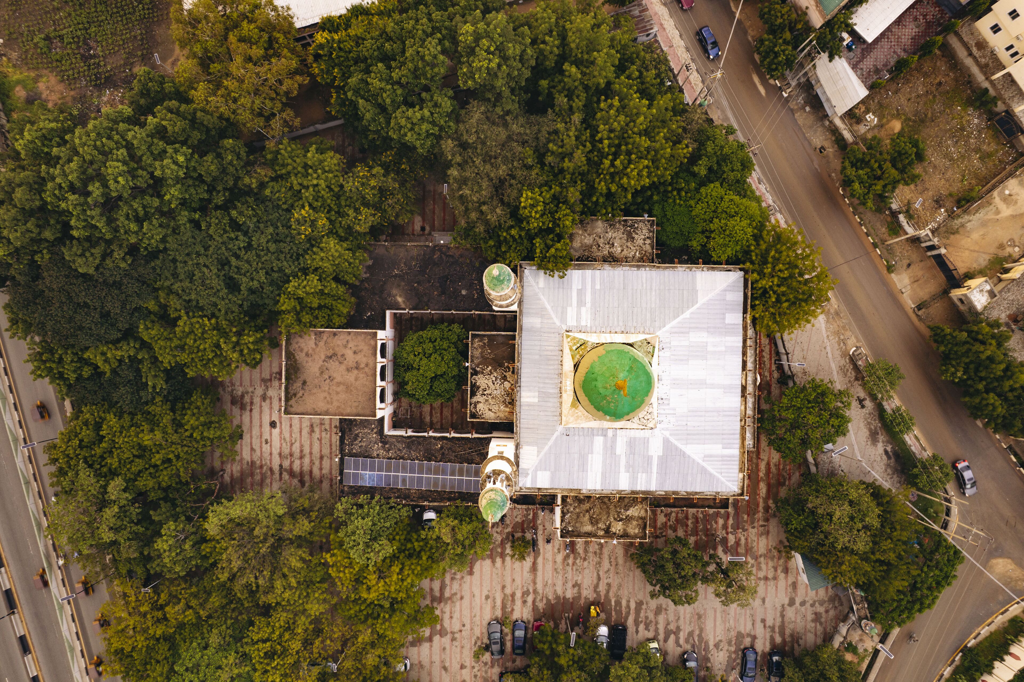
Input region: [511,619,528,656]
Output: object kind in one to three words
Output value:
car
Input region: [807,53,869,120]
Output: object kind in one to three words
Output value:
shed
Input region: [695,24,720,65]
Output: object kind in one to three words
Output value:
car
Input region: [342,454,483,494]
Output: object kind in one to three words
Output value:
solar array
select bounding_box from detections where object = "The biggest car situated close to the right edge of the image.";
[952,457,977,496]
